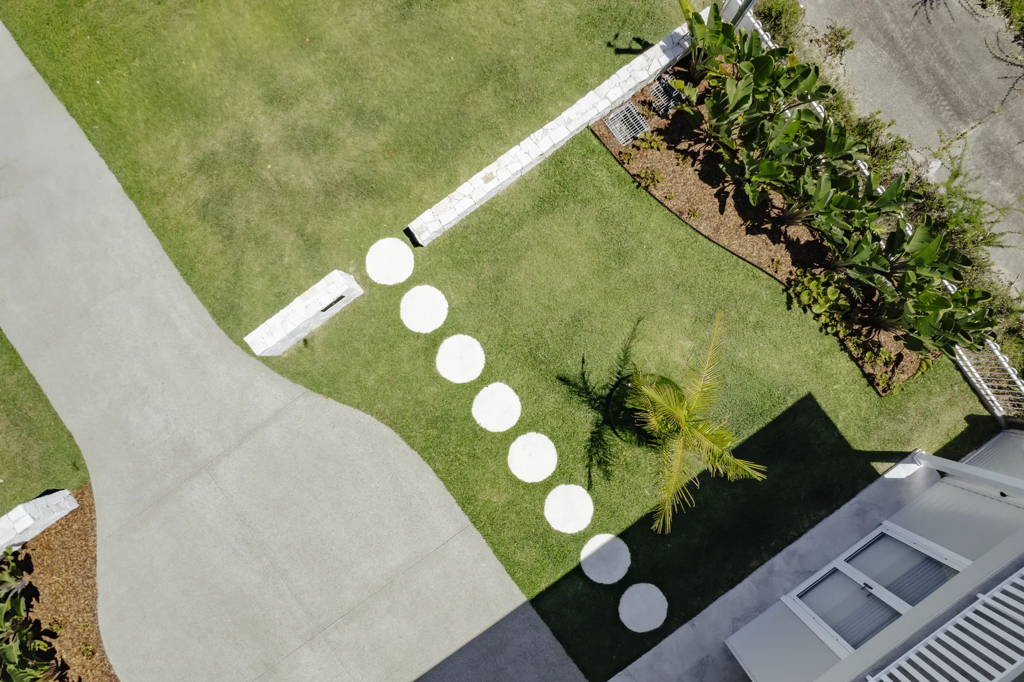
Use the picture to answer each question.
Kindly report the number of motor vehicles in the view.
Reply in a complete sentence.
No motor vehicles are visible.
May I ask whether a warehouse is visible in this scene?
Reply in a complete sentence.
No, no warehouse can be seen from above.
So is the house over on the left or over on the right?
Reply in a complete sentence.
The house is on the right side of the image.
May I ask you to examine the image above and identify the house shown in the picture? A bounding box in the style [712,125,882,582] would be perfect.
[724,448,1024,682]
